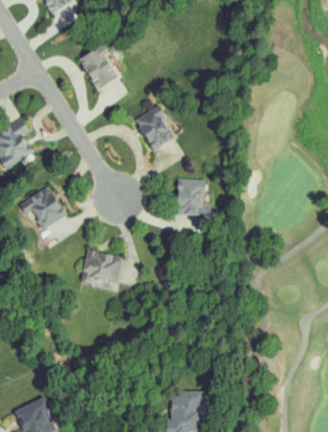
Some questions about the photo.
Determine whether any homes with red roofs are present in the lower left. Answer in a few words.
No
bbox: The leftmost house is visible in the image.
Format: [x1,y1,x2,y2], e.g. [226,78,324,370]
[0,118,29,170]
